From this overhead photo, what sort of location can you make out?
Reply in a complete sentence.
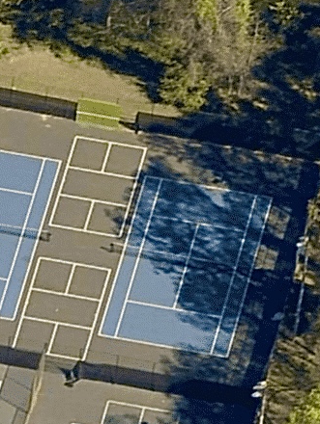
What you see here is a sports ground.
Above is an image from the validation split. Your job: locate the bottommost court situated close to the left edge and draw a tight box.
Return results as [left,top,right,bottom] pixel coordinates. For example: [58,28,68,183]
[14,257,110,360]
